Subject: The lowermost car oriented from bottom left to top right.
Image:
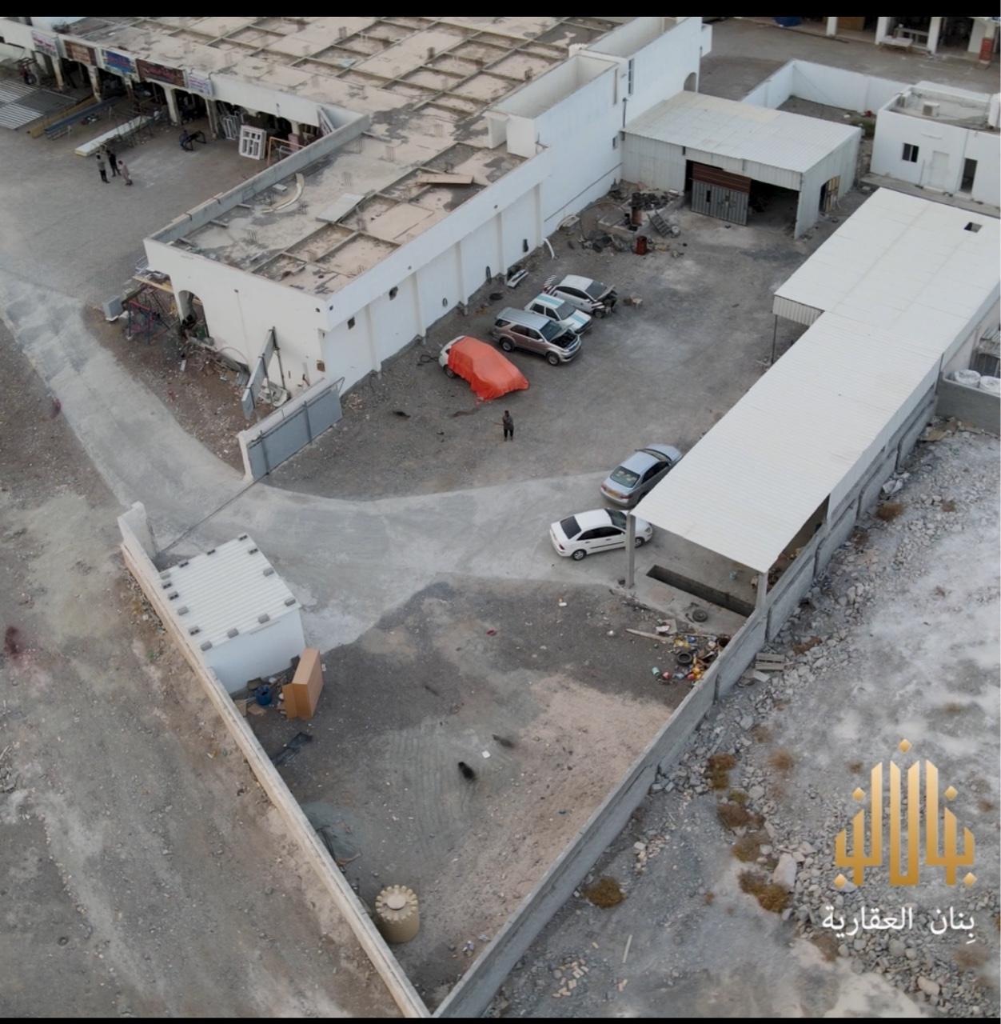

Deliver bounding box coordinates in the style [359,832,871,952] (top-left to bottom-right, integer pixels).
[602,447,683,509]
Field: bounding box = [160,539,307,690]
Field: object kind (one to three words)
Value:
shed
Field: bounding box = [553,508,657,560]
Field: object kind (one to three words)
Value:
car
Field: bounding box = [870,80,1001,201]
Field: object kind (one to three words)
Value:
house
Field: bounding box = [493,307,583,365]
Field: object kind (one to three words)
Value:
car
